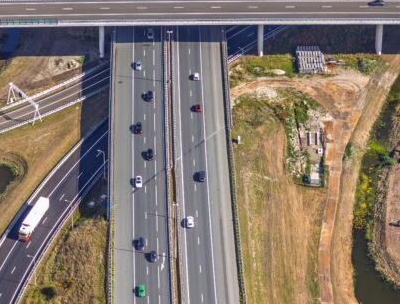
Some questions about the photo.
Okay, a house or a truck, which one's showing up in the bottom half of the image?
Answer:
truck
